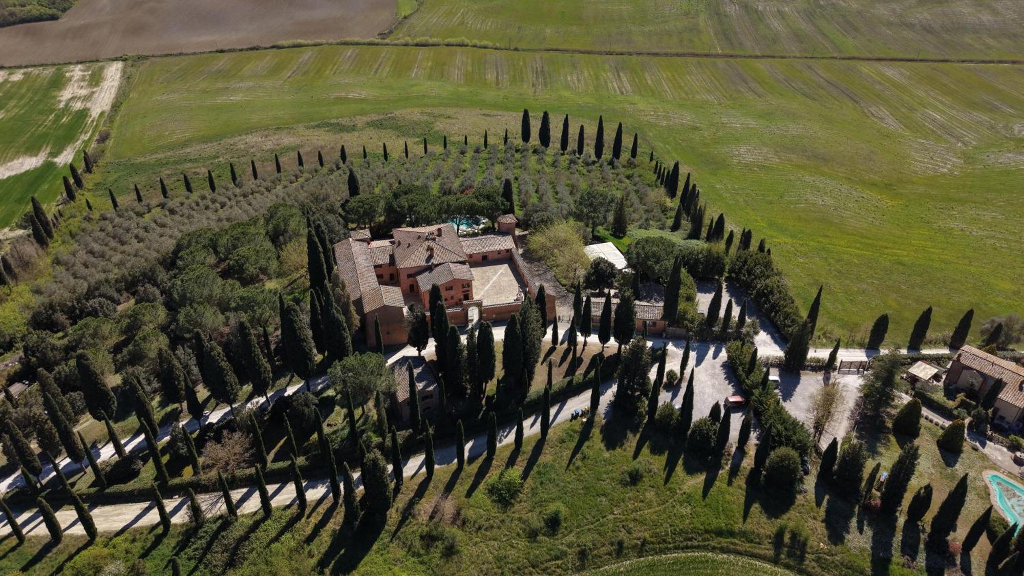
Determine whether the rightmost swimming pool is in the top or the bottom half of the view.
bottom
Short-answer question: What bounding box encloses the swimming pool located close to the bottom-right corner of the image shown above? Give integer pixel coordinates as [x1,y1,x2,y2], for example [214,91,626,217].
[985,471,1024,530]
